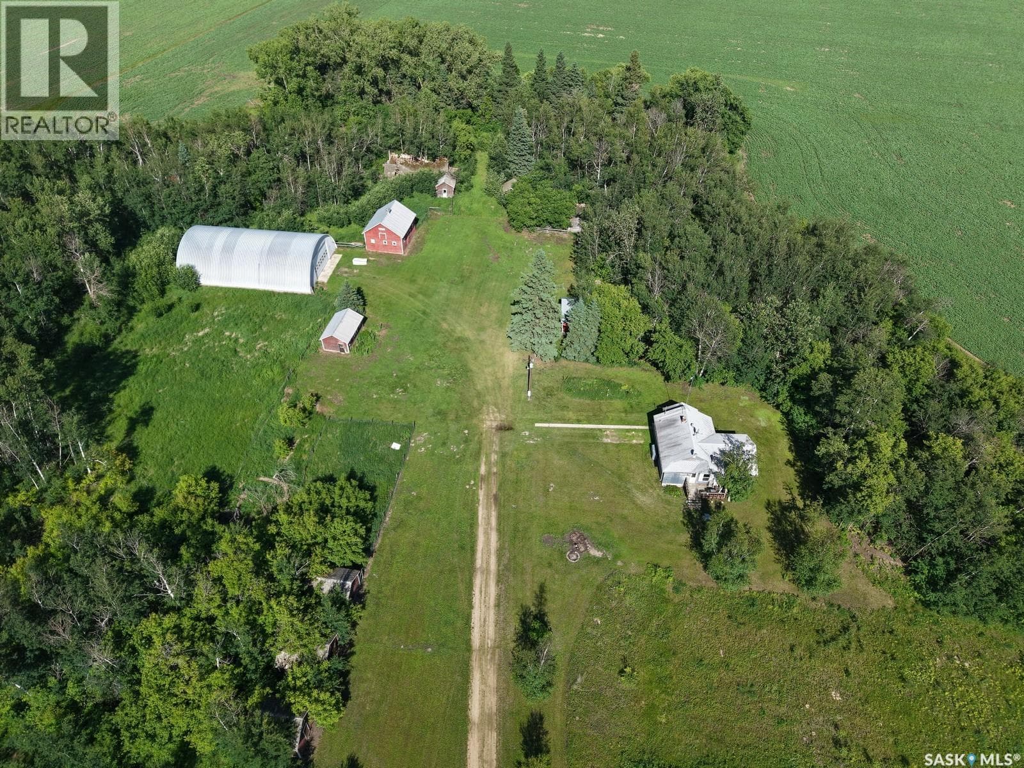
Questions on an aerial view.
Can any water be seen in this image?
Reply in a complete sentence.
No, the scene doesn't show any water.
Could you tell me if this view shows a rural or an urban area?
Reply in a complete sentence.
The area shown here is rural.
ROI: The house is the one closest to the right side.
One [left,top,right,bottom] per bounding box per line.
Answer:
[652,401,760,513]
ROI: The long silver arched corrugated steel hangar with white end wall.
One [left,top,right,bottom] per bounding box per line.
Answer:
[171,219,340,294]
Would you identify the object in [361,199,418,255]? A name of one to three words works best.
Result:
barn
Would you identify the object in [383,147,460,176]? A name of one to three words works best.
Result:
barn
